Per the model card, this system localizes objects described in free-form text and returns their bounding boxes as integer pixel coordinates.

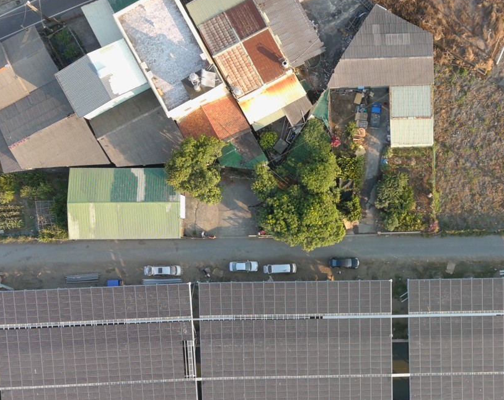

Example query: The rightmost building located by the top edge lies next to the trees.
[327,5,434,93]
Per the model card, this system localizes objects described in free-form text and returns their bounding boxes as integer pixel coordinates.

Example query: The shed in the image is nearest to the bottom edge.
[67,168,191,239]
